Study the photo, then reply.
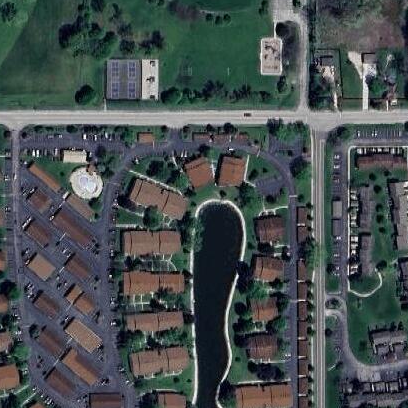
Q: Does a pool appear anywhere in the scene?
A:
Yes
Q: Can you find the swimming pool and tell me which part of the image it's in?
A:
left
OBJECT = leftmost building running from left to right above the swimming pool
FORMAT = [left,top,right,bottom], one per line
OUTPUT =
[61,149,87,162]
